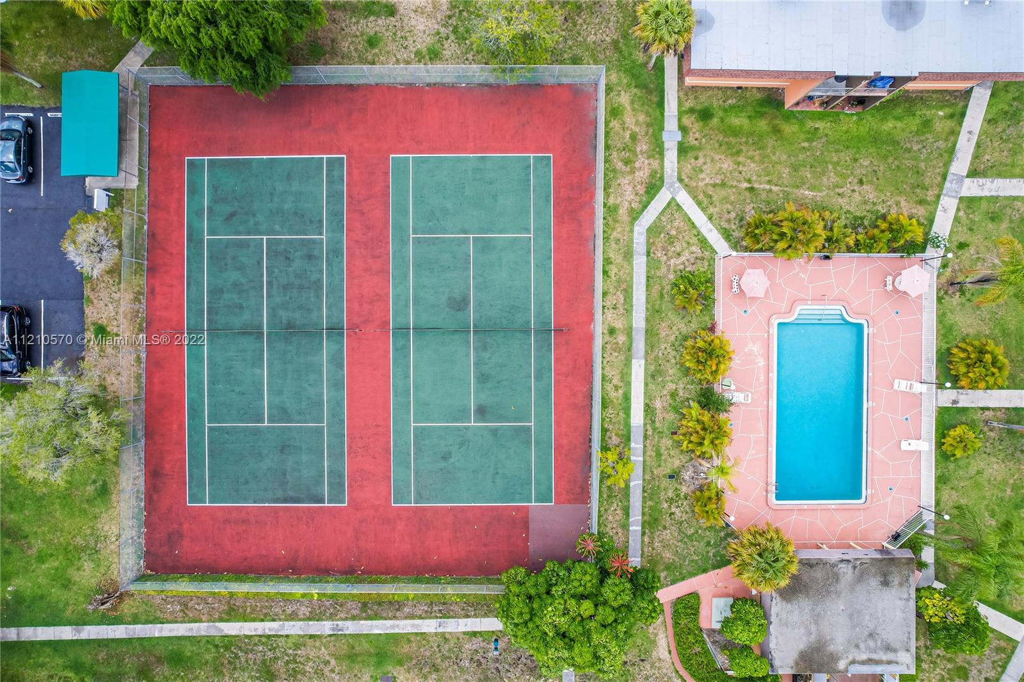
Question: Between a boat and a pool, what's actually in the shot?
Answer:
pool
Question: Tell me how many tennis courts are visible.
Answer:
2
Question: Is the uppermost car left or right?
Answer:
left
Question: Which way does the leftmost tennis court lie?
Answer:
from top to bottom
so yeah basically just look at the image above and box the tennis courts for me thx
[390,154,554,506]
[185,155,347,506]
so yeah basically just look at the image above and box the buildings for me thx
[760,541,915,674]
[683,0,1024,109]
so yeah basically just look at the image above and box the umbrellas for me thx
[737,269,769,297]
[892,264,926,297]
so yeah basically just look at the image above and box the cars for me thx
[0,115,34,184]
[0,304,32,376]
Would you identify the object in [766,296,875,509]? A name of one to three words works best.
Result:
swimming pool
